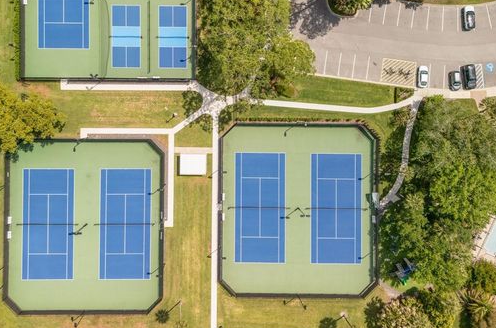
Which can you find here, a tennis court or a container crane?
tennis court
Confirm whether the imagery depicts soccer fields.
No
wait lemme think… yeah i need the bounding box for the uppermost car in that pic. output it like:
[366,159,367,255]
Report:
[464,6,477,29]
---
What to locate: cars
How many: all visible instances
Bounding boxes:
[464,6,477,29]
[450,71,462,91]
[464,65,479,89]
[417,65,429,87]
